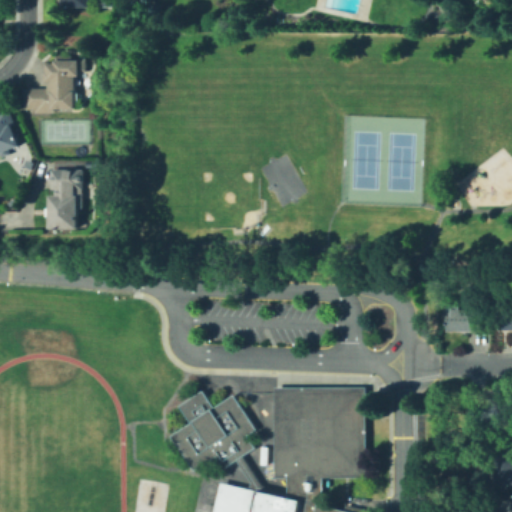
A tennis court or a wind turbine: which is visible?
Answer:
tennis court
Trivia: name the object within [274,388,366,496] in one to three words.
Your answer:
building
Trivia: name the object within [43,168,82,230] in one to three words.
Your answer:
house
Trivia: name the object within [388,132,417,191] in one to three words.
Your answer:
tennis court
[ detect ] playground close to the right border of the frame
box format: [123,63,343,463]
[467,148,512,208]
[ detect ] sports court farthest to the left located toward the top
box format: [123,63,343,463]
[42,120,92,143]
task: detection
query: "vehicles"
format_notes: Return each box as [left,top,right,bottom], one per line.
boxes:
[475,334,480,346]
[482,334,487,346]
[38,162,45,177]
[392,342,402,352]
